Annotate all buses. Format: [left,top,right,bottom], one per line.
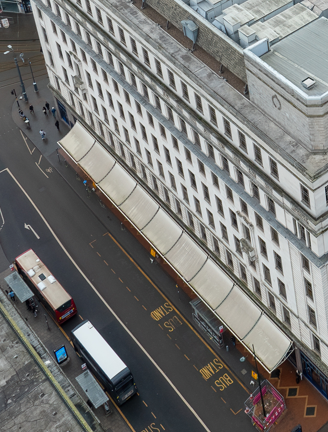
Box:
[16,252,78,324]
[69,322,140,410]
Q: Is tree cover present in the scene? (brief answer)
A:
No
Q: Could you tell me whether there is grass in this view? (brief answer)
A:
No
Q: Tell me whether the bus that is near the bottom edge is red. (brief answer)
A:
No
